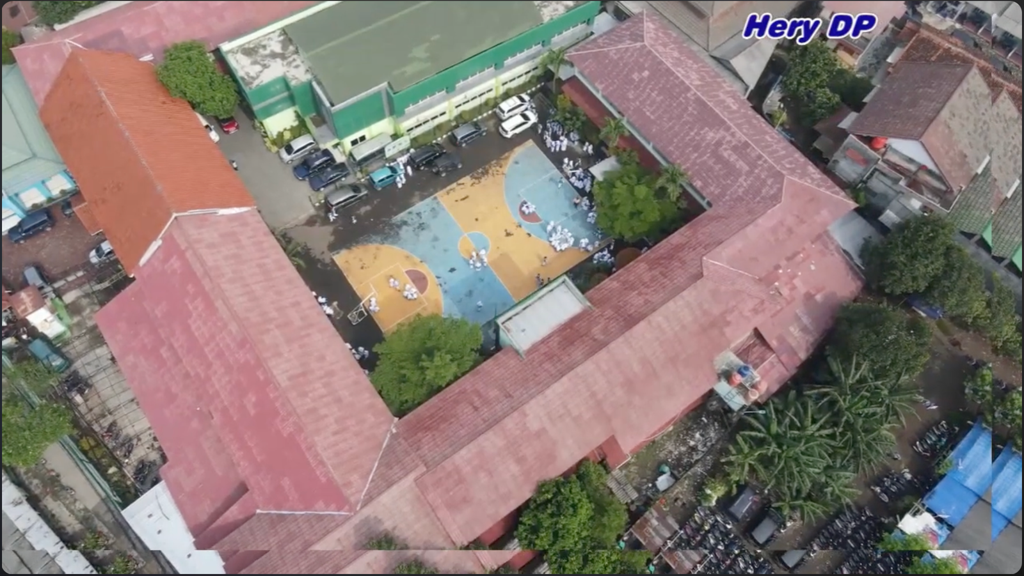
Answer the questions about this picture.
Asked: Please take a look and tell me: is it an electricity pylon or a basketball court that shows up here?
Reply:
basketball court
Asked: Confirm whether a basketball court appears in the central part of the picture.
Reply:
Yes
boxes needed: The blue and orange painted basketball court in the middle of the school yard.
[330,140,614,339]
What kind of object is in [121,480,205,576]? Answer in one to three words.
shed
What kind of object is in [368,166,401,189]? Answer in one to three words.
car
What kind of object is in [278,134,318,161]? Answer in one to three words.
car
